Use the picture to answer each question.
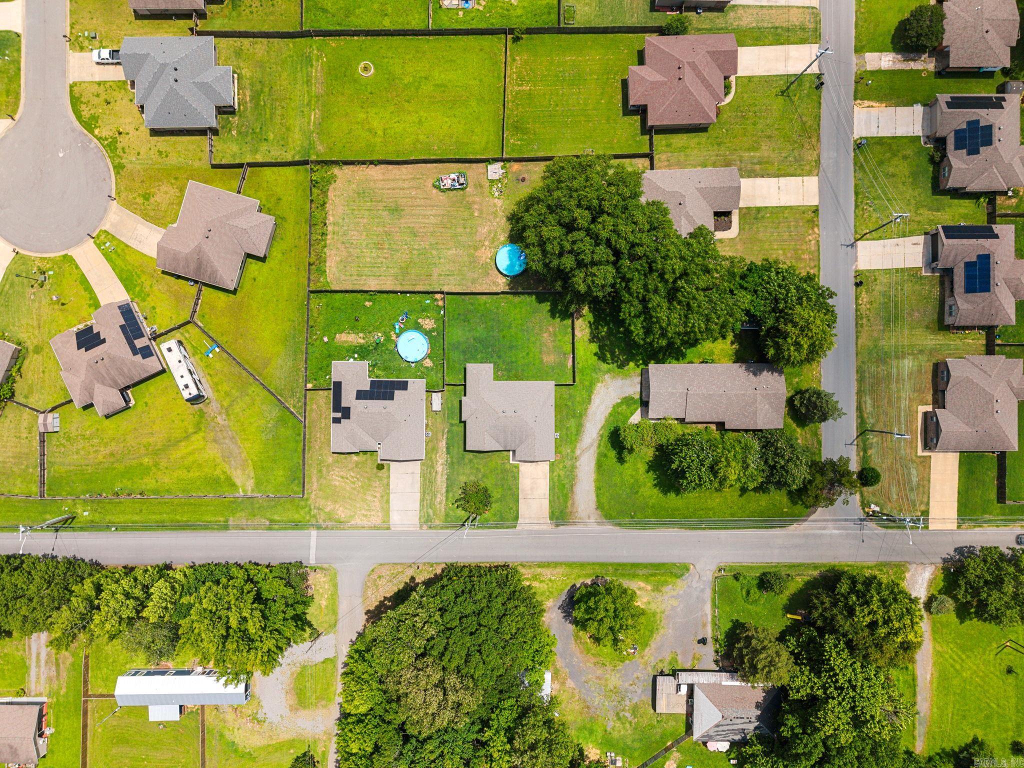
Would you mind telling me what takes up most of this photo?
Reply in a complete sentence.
The scene is dominated by grass.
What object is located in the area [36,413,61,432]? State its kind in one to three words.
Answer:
shed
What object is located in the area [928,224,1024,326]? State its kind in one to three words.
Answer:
house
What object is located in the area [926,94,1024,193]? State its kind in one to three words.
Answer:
house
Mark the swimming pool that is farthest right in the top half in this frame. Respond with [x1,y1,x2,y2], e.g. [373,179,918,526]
[495,242,527,275]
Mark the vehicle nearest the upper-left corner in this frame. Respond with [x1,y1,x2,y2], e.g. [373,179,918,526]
[88,47,120,62]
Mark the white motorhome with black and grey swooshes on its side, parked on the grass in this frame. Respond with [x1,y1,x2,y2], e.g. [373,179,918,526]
[162,339,206,402]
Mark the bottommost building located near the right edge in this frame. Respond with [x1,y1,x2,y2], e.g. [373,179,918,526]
[925,355,1024,451]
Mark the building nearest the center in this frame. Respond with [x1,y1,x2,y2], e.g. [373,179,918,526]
[462,363,555,462]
